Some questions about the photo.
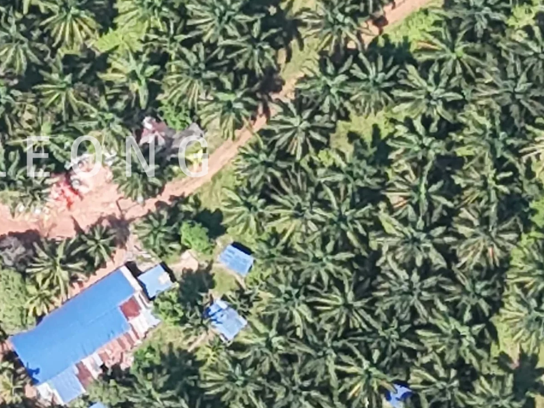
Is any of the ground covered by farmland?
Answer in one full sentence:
No, there is no farmland in the image.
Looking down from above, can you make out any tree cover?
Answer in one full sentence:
Yes, some tree cover is visible.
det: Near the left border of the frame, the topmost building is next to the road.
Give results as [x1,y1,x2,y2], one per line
[9,267,161,403]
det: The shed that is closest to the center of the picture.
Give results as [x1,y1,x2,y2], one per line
[219,245,253,279]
